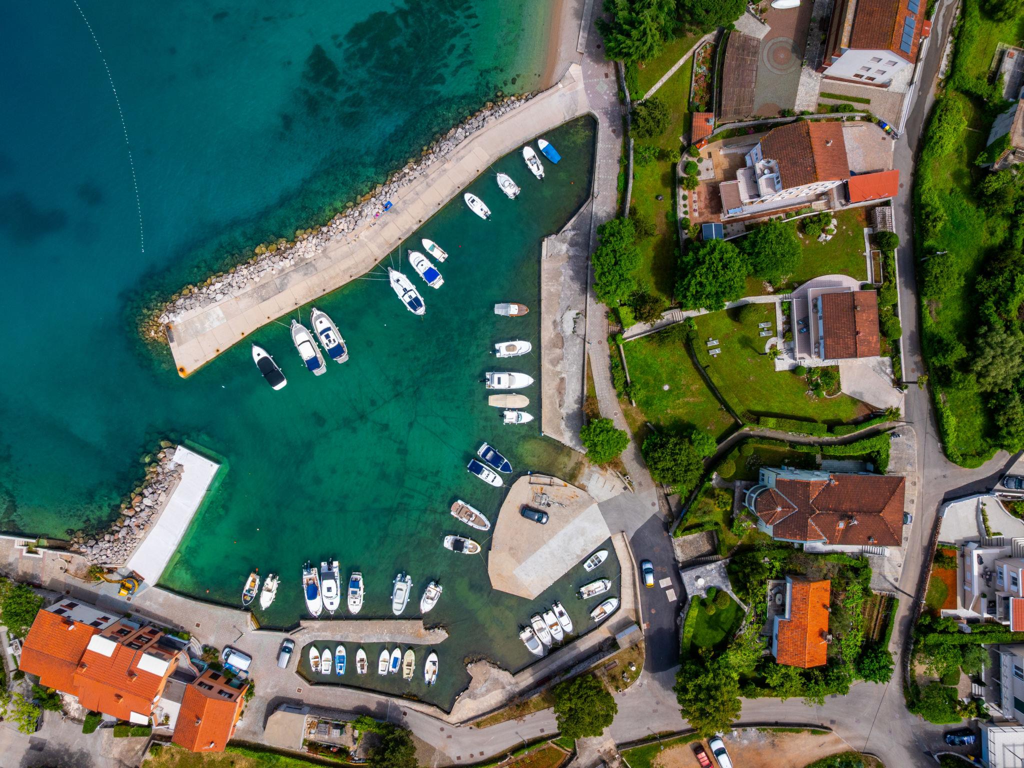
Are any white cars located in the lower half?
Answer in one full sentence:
Yes, a white car is visible in the lower half.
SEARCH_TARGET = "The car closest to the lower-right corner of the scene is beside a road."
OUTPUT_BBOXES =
[943,730,977,747]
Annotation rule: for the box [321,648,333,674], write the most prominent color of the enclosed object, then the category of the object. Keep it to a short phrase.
white boat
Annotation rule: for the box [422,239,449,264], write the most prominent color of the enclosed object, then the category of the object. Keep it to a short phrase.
white boat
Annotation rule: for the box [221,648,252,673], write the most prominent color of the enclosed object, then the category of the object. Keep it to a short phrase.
white vehicle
